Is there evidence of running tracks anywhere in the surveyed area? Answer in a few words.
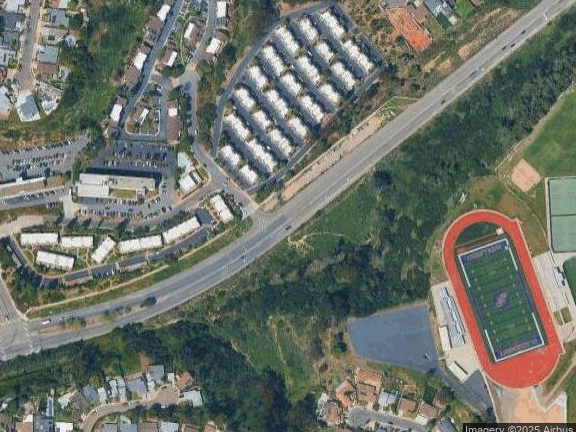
Yes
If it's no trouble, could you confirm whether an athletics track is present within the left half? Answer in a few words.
No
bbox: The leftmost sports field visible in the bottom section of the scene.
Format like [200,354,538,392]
[455,222,548,364]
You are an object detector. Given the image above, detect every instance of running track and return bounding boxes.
[441,209,565,390]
